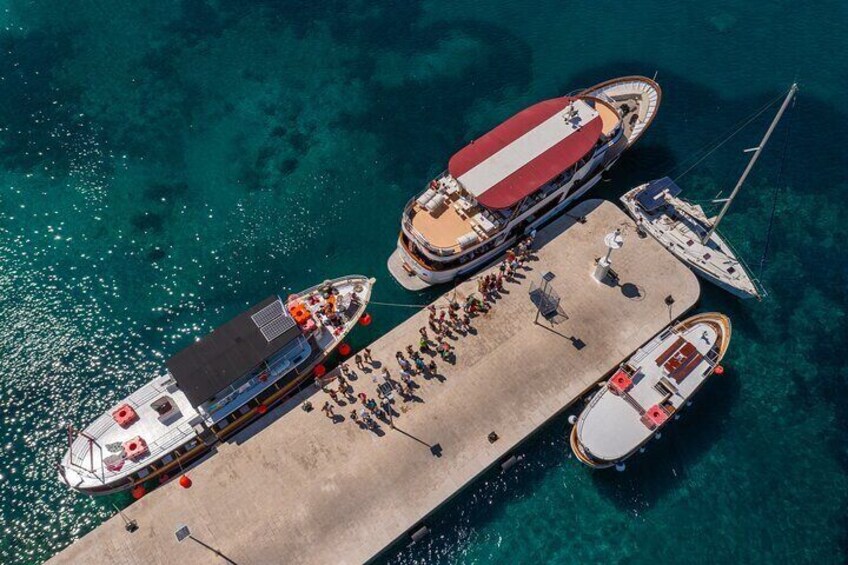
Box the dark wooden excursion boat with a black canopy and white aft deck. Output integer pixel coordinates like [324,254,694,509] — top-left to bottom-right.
[55,275,378,498]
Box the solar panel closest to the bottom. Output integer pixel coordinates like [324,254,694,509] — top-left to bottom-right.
[175,518,194,539]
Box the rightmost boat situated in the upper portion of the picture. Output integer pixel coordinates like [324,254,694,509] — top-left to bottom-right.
[620,75,803,302]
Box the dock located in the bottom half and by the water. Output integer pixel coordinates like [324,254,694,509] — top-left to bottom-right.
[44,200,700,565]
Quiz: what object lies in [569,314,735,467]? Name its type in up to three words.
boat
